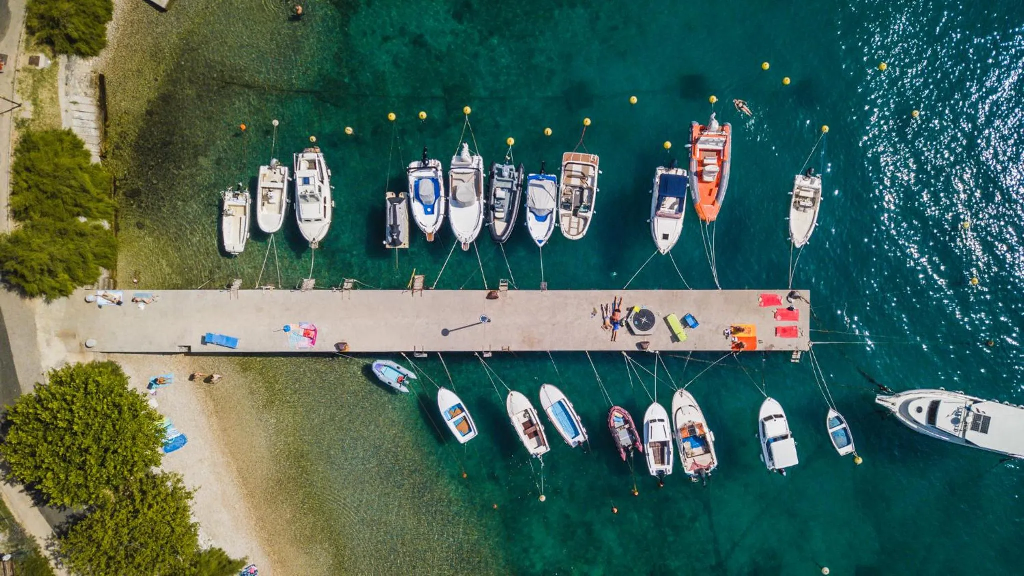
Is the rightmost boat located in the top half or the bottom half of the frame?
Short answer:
bottom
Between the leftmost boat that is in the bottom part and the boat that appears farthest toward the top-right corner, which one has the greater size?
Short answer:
the boat that appears farthest toward the top-right corner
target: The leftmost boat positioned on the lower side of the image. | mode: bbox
[373,359,418,393]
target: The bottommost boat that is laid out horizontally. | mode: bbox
[875,385,1024,458]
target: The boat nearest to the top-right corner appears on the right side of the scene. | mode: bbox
[784,165,822,248]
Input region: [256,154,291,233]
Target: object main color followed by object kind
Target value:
white boat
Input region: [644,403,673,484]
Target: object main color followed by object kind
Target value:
white boat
